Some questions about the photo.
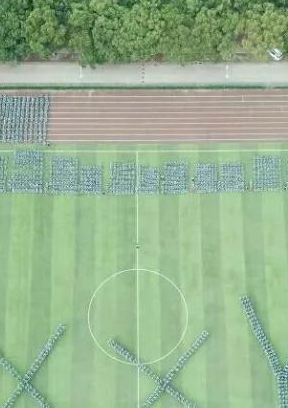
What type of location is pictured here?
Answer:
sports ground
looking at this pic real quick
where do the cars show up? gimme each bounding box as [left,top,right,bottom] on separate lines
[265,44,285,60]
